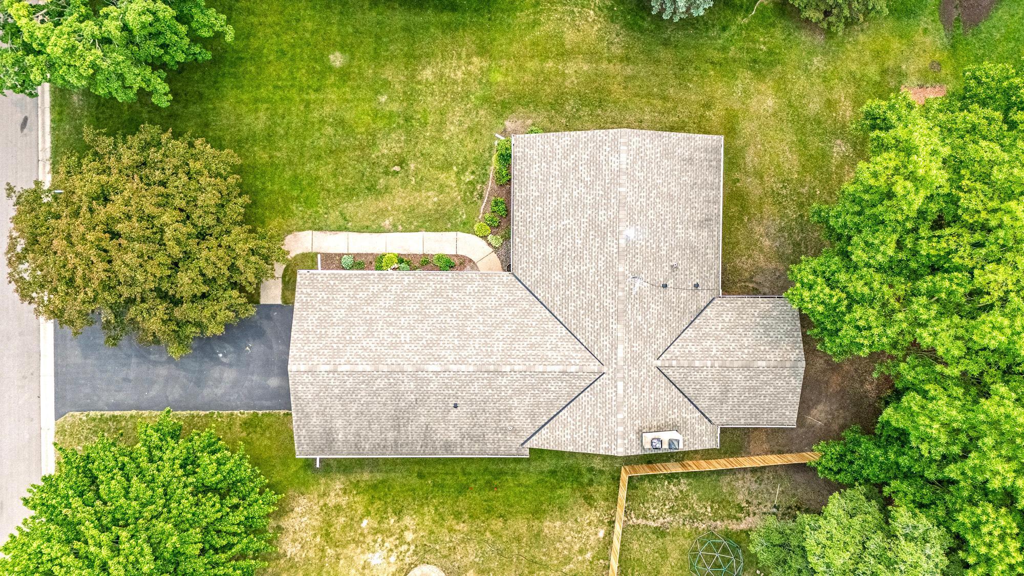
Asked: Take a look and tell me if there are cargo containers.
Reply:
No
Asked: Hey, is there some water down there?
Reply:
No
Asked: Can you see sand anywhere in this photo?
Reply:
No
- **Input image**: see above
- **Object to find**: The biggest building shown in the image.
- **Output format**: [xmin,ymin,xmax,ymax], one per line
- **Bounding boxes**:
[287,128,806,467]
